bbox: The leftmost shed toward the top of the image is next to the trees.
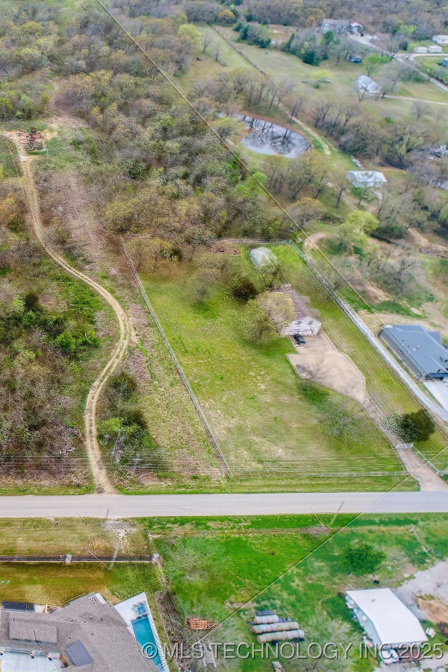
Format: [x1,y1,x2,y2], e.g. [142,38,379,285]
[250,244,278,267]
